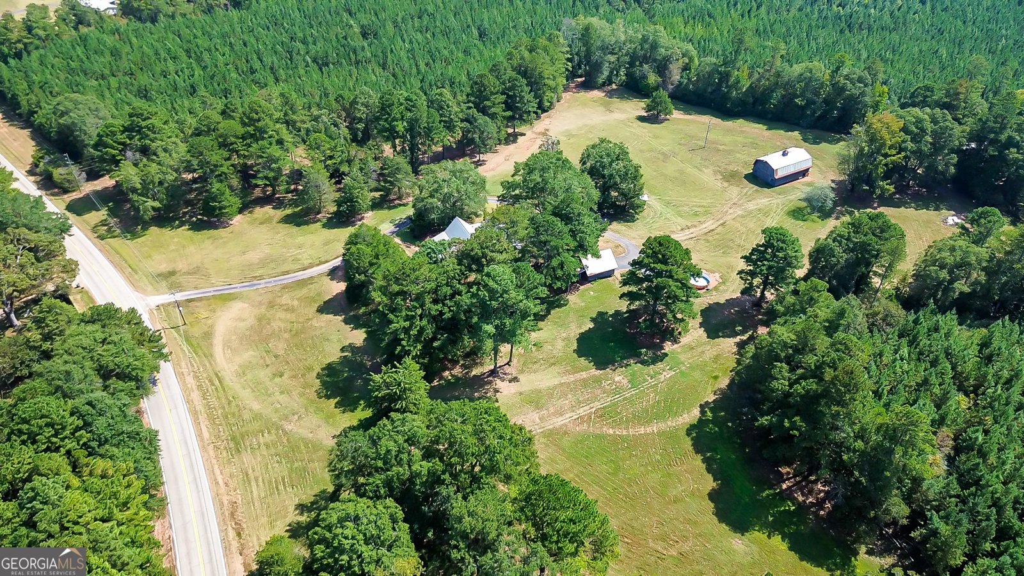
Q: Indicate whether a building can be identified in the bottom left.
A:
No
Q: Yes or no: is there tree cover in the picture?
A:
Yes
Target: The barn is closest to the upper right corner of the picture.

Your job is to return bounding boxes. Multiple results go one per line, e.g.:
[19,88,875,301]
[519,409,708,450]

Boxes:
[748,146,812,186]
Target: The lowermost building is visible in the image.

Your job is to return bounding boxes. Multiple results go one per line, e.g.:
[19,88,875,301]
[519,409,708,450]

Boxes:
[565,251,619,282]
